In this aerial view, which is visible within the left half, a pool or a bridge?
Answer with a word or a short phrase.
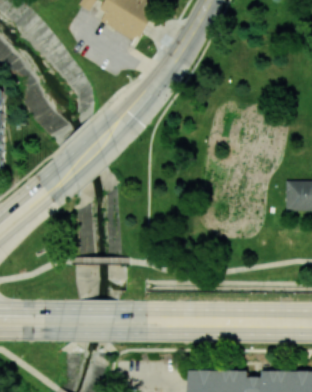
bridge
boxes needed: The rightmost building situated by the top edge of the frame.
[102,0,154,40]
